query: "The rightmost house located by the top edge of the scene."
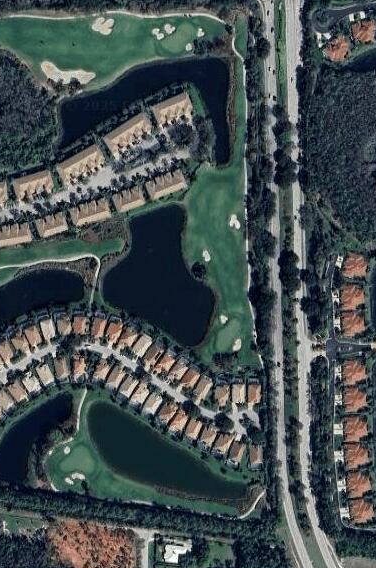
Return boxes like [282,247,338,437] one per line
[351,18,375,42]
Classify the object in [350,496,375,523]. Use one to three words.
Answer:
house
